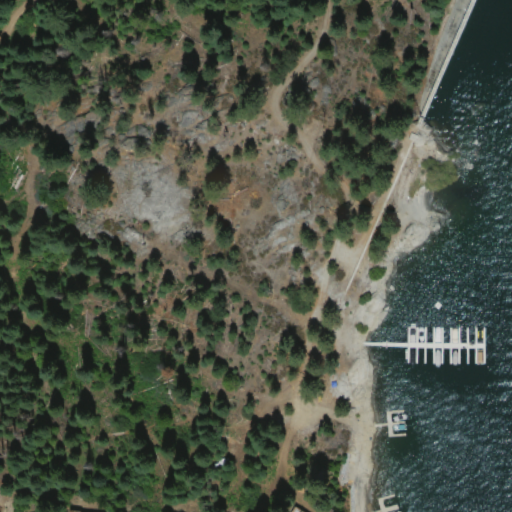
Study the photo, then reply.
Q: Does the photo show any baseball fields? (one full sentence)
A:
No, no baseball field is visible in the view.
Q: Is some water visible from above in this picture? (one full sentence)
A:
Yes, water can be seen from above here.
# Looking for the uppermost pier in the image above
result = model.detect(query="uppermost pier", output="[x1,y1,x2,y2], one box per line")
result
[362,327,486,364]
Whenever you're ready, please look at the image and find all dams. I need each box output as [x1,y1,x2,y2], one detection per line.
[414,0,476,118]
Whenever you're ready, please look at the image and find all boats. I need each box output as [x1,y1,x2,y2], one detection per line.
[452,350,457,365]
[435,348,442,367]
[435,326,442,342]
[410,349,416,365]
[393,426,408,432]
[478,350,484,365]
[392,415,408,421]
[452,327,458,342]
[410,324,416,342]
[419,328,424,342]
